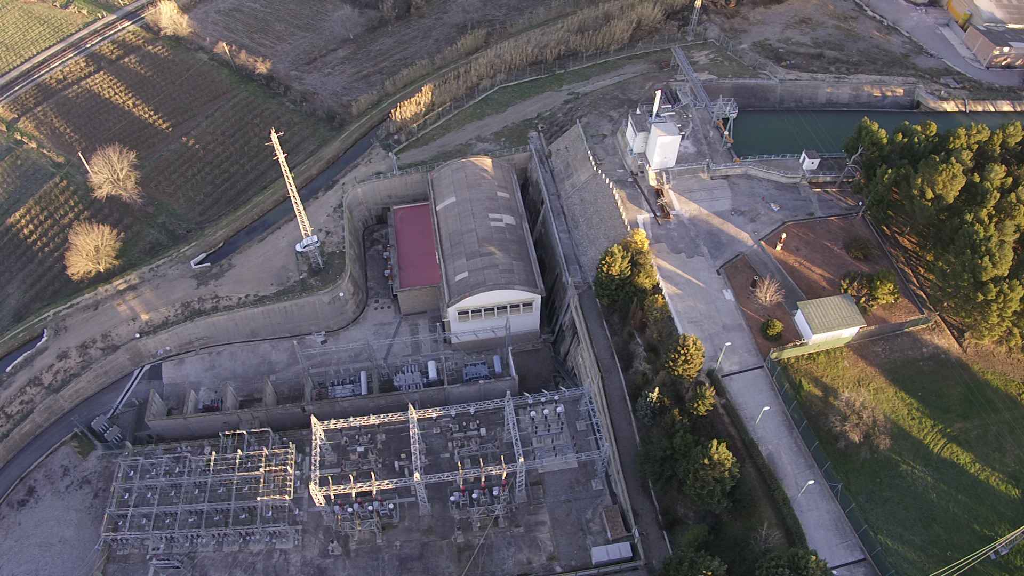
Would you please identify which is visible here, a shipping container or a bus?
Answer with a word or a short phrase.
shipping container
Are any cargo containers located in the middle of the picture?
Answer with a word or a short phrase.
No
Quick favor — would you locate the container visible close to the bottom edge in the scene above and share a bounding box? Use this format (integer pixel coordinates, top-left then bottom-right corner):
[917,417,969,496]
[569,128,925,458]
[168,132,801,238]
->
[588,539,633,568]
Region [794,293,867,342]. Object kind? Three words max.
shed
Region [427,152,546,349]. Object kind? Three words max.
building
